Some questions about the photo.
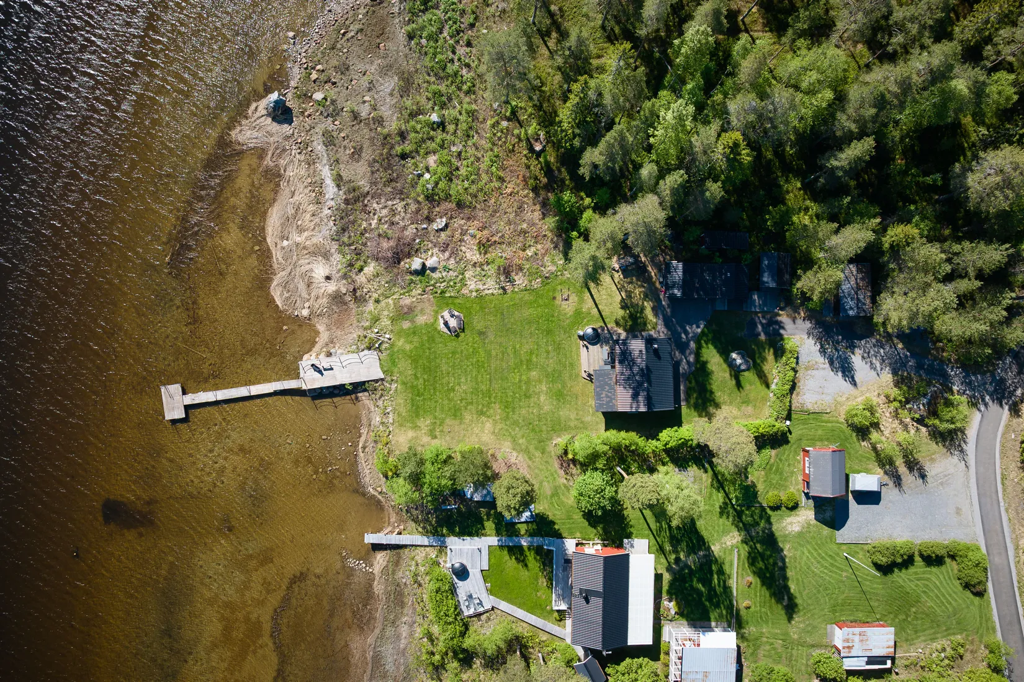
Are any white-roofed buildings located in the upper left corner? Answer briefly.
No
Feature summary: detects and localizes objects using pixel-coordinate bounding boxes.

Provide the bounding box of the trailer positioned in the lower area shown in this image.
[845,471,883,491]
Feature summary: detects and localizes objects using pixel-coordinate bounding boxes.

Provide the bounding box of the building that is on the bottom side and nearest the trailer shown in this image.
[803,450,846,498]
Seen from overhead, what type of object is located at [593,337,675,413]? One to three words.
house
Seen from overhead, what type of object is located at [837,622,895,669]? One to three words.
shed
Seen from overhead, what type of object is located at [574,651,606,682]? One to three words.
shed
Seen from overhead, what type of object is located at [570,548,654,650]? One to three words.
house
